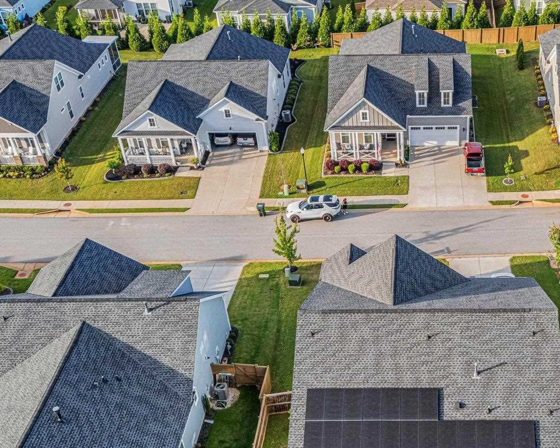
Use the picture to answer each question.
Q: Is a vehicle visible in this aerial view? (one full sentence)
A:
Yes, there's a vehicle here.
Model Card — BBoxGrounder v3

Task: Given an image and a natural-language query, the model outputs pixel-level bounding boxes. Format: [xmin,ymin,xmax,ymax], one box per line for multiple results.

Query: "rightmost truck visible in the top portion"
[462,141,485,170]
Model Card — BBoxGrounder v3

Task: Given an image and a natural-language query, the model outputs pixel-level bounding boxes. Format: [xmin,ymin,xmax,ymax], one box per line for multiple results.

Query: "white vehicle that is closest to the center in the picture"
[286,192,340,221]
